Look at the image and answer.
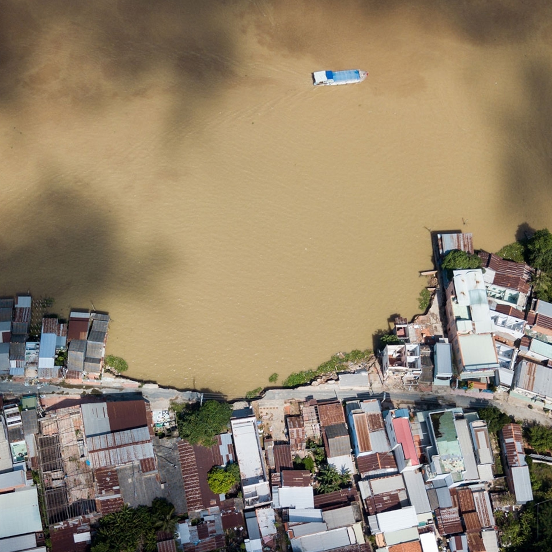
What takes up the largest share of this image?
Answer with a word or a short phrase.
water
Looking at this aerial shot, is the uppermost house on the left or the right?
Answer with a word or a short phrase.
right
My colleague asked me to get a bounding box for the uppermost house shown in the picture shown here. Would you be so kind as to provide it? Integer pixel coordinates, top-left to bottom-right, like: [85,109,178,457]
[433,233,474,256]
